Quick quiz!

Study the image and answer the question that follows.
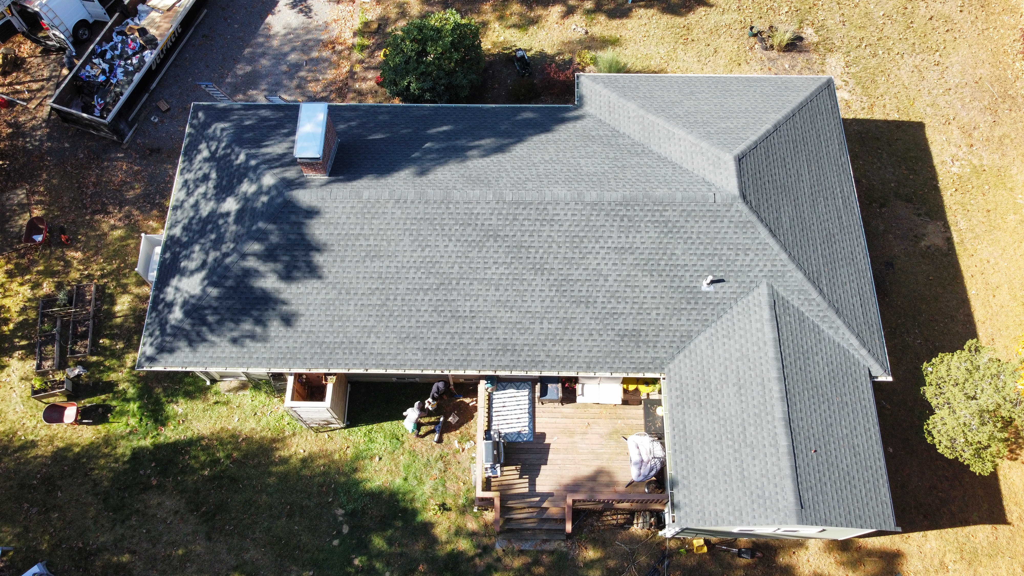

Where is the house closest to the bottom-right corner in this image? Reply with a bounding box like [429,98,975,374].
[136,71,905,542]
